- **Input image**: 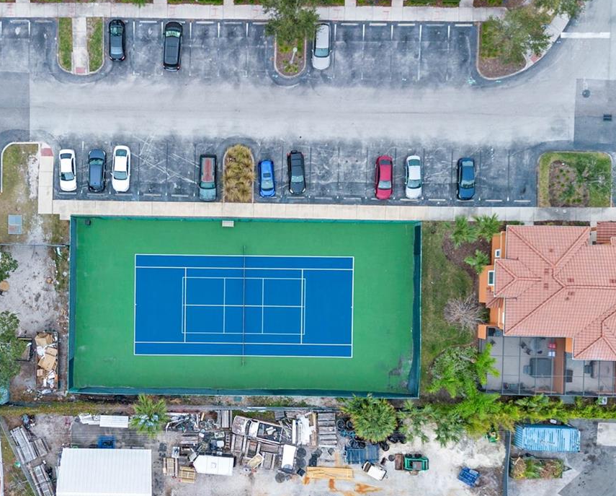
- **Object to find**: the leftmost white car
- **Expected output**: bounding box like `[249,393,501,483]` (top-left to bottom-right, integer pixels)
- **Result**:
[57,149,79,192]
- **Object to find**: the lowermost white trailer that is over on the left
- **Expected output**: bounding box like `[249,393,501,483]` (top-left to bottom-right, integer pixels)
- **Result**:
[185,451,234,476]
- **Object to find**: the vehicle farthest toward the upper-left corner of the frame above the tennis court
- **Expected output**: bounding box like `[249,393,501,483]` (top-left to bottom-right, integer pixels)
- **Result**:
[107,20,126,62]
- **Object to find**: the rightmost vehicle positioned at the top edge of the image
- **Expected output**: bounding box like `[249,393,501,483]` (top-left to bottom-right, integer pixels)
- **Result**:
[312,23,332,70]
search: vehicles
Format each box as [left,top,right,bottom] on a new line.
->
[392,449,427,471]
[87,149,107,193]
[111,145,131,193]
[404,154,425,200]
[162,21,184,72]
[198,154,217,201]
[312,23,332,70]
[374,154,394,201]
[258,159,276,198]
[286,148,307,196]
[456,157,477,201]
[360,461,387,481]
[107,20,126,62]
[233,415,291,445]
[57,149,79,192]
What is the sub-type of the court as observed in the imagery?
tennis court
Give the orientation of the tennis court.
horizontally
